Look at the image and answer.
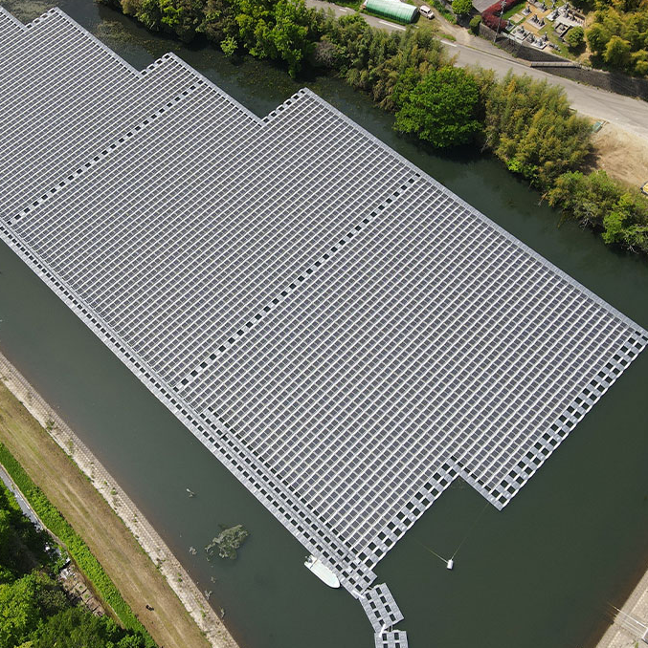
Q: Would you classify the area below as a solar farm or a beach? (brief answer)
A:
solar farm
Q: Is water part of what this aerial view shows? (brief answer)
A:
Yes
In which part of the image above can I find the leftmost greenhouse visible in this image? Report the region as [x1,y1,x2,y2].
[361,0,416,28]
